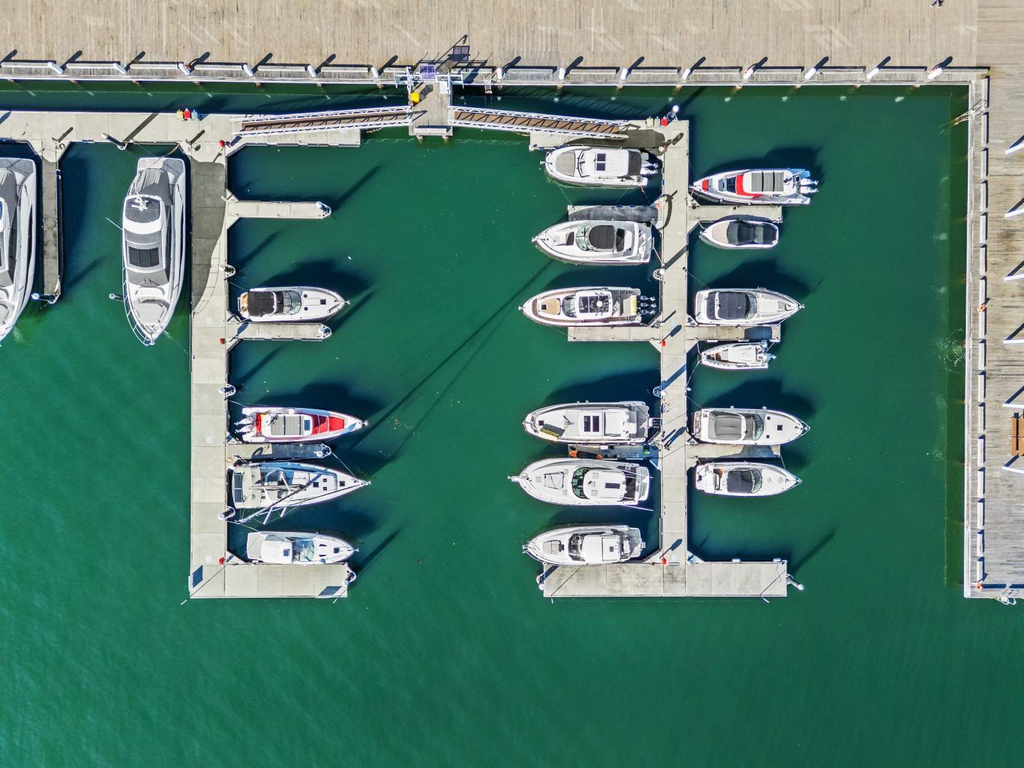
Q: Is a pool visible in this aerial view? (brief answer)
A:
No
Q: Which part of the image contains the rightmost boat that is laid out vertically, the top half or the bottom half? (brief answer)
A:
top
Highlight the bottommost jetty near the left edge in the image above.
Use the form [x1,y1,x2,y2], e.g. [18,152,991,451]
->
[0,111,361,598]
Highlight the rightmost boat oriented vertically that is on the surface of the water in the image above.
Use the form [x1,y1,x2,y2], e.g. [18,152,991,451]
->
[106,158,190,343]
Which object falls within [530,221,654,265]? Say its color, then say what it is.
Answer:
white boat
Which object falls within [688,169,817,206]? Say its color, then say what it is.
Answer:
white boat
